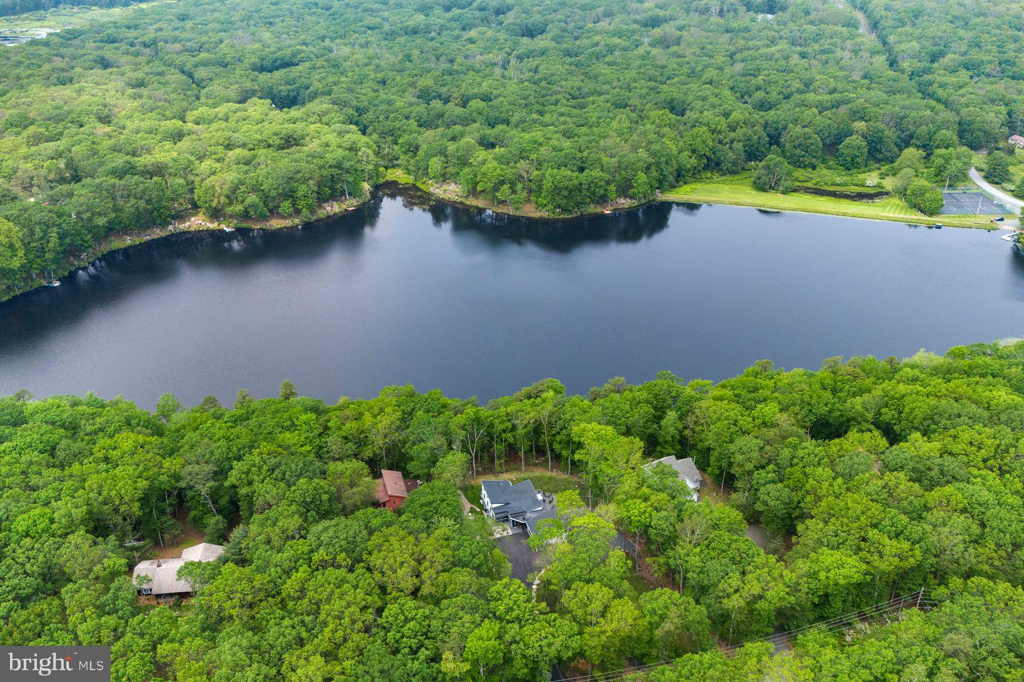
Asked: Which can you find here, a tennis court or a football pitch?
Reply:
tennis court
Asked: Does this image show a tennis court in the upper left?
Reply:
No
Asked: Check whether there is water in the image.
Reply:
Yes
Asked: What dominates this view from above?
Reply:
trees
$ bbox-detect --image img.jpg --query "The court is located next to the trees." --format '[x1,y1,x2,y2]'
[926,185,1015,214]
